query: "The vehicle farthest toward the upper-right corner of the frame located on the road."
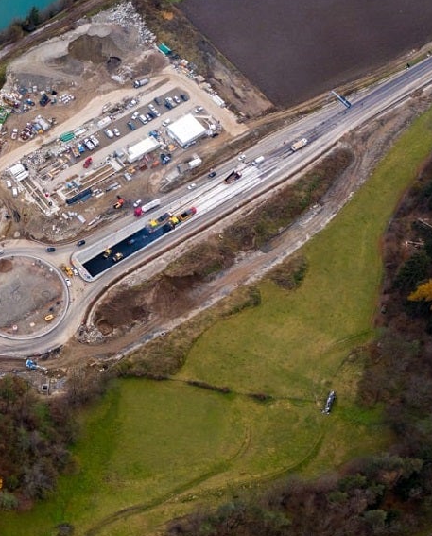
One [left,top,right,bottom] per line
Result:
[292,136,309,149]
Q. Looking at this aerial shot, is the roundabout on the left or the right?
left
